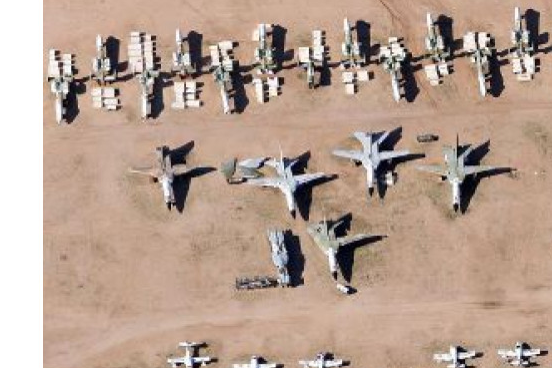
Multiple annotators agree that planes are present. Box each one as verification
[332,120,408,197]
[210,57,233,115]
[267,229,289,286]
[129,138,205,212]
[233,356,276,368]
[46,68,70,124]
[168,341,210,368]
[132,64,156,120]
[512,7,536,56]
[170,28,194,77]
[411,145,497,213]
[255,23,278,72]
[464,42,488,98]
[339,17,363,65]
[248,145,324,220]
[381,47,404,104]
[90,33,114,82]
[497,342,540,368]
[423,13,447,62]
[302,209,372,281]
[298,55,321,93]
[433,346,476,368]
[299,353,342,368]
